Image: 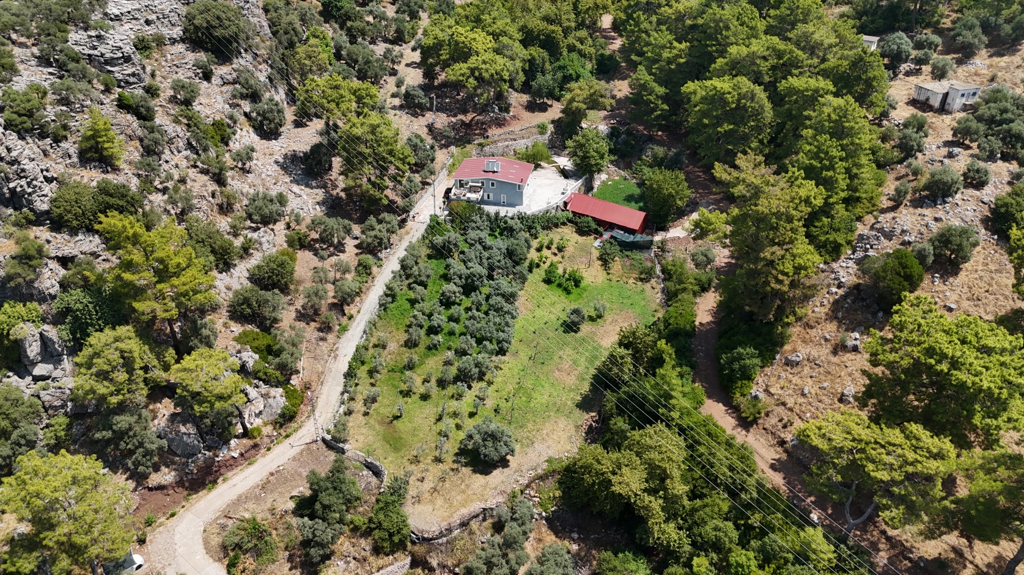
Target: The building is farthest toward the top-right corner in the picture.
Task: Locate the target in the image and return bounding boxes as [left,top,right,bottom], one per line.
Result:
[910,81,981,117]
